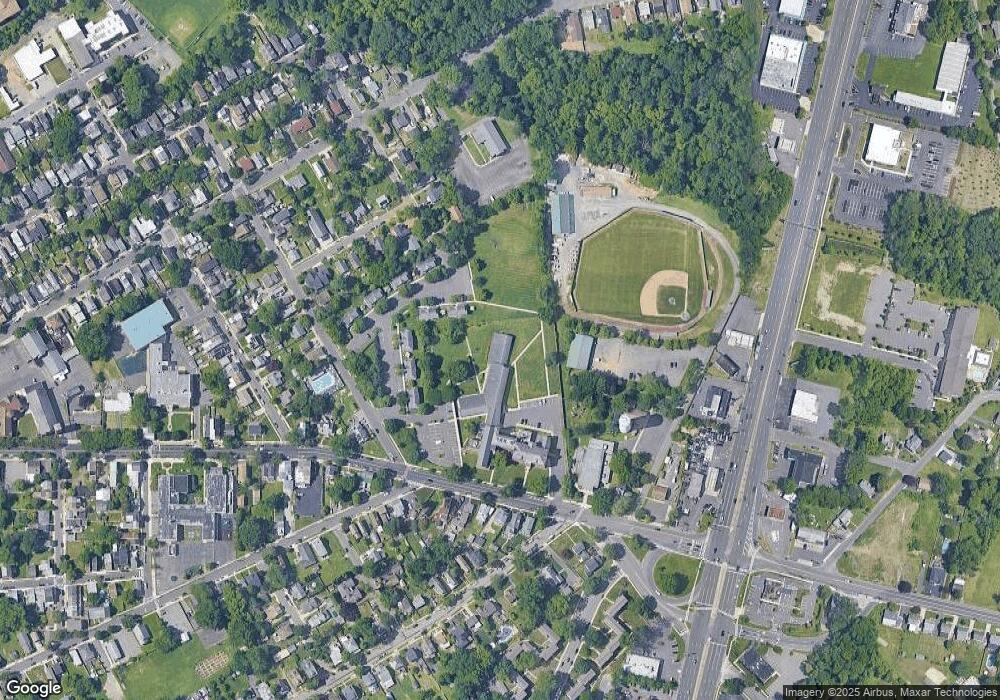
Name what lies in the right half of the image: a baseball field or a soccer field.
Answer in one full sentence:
The feature located in the right half of the image is a baseball field.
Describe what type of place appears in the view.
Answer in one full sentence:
This image shows a residential area.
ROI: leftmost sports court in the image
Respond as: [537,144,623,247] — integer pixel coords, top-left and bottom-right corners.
[120,352,146,376]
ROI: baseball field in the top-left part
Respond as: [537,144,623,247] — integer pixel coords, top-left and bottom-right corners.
[131,0,224,55]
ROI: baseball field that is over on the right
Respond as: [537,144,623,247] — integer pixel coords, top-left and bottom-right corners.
[569,193,742,341]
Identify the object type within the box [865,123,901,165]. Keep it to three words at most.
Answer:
building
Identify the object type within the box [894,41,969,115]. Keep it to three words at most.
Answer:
building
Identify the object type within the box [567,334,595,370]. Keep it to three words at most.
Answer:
shed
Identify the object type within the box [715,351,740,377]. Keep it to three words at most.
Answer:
house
